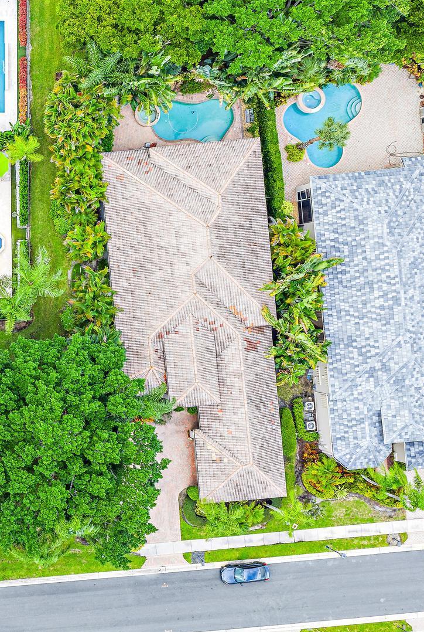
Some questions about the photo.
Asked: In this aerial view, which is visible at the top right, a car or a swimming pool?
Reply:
swimming pool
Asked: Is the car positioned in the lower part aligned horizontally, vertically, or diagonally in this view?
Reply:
horizontally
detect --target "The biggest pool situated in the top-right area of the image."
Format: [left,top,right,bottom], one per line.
[282,80,365,171]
